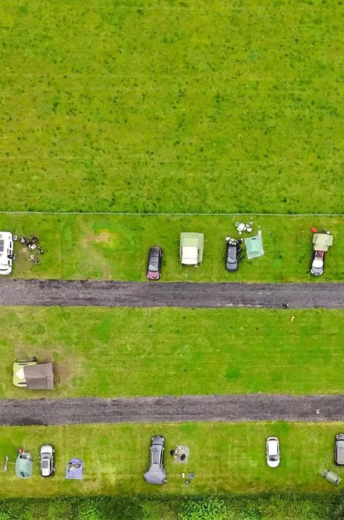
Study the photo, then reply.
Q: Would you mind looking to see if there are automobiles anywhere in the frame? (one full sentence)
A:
Yes, an automobile appears in the view.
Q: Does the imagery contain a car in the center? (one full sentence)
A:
Yes, you'll find a car in the center.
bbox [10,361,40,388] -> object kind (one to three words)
tent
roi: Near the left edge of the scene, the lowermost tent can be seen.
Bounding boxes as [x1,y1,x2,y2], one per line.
[9,453,33,482]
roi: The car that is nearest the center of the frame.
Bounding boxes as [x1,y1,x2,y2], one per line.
[146,246,163,280]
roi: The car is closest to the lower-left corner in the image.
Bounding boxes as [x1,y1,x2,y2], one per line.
[38,445,55,476]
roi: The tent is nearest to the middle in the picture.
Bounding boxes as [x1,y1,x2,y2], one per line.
[175,229,209,270]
